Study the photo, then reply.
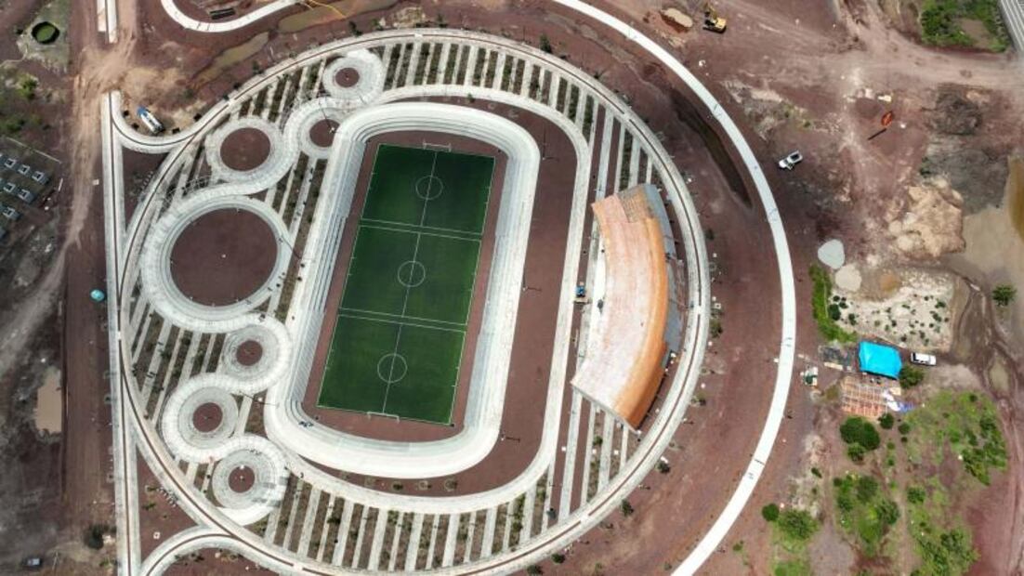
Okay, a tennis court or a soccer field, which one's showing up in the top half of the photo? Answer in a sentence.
There is a soccer field in the top half of the photo.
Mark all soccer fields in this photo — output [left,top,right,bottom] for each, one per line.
[361,145,496,237]
[339,222,483,331]
[317,314,467,427]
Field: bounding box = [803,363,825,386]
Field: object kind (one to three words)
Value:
shed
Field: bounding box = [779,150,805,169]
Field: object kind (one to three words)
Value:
vehicle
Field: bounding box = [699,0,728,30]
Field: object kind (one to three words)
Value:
work vehicle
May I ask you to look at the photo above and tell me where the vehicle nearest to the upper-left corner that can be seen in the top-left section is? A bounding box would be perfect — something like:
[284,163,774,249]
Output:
[132,103,162,131]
